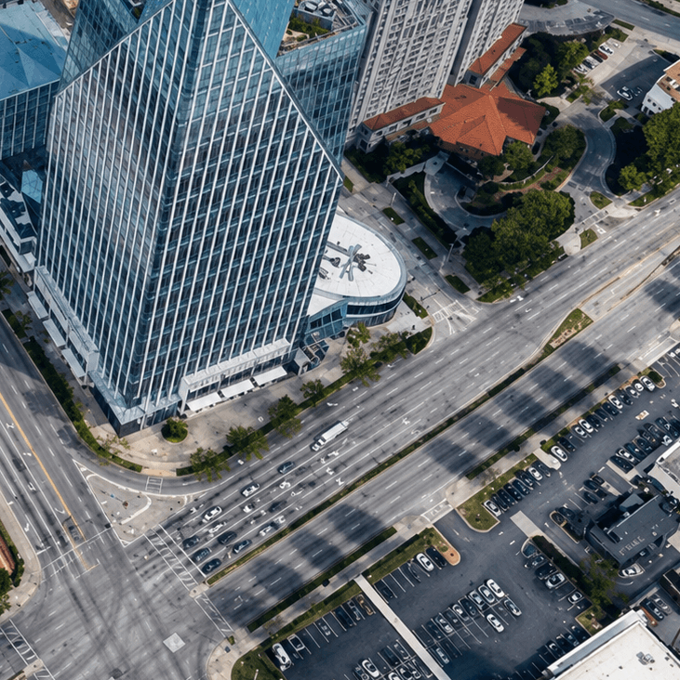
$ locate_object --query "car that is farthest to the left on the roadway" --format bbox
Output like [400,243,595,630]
[10,454,27,476]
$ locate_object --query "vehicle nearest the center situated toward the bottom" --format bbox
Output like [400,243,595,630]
[311,413,352,450]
